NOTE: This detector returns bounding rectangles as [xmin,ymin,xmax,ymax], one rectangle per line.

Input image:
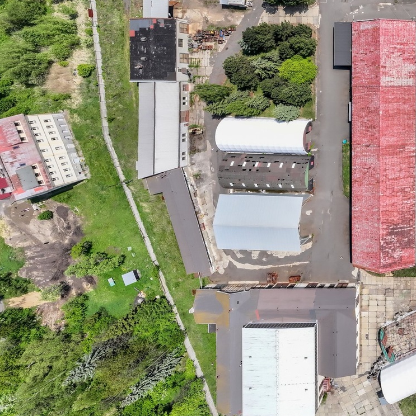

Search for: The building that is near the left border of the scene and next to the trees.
[0,112,88,202]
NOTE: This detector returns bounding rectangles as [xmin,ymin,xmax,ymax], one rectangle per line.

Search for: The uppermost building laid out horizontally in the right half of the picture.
[211,118,311,153]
